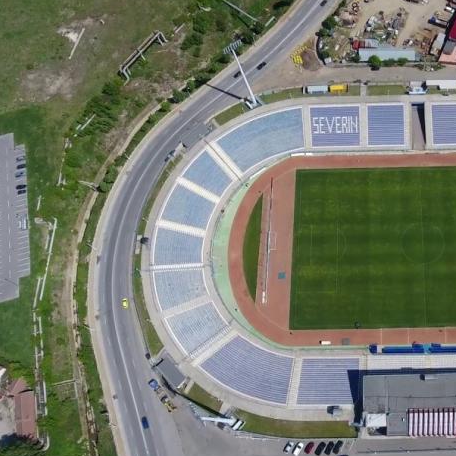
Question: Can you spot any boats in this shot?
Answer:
No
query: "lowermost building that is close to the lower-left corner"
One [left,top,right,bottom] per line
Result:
[14,395,44,438]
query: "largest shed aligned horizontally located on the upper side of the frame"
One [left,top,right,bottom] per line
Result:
[359,48,415,65]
